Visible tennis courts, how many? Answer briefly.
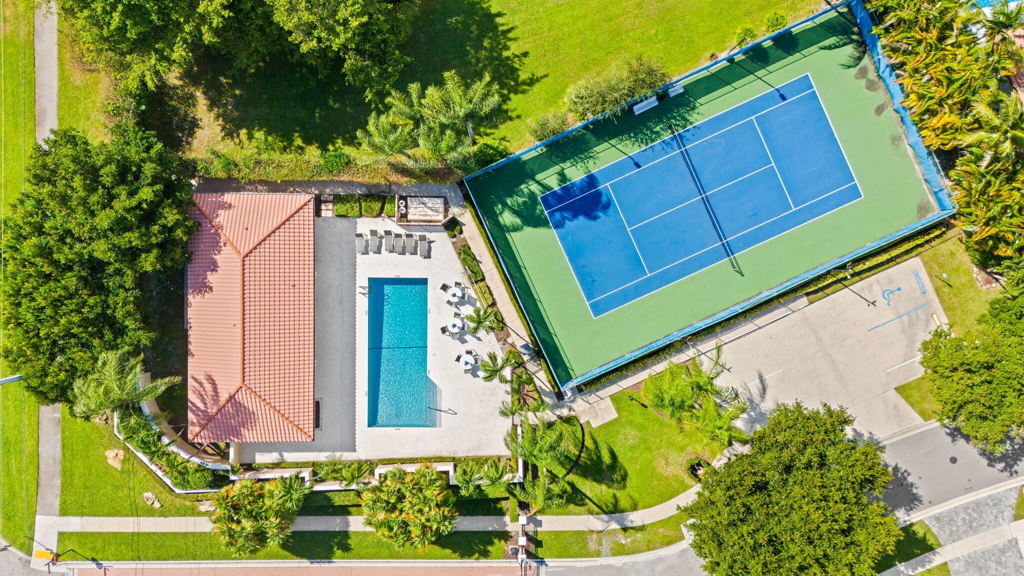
one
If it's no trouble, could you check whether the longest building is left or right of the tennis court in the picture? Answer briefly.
to its left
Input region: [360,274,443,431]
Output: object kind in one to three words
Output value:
swimming pool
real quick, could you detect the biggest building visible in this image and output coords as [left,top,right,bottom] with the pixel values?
[187,192,318,443]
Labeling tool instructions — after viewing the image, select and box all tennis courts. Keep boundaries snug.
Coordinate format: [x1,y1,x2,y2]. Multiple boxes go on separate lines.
[469,13,936,385]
